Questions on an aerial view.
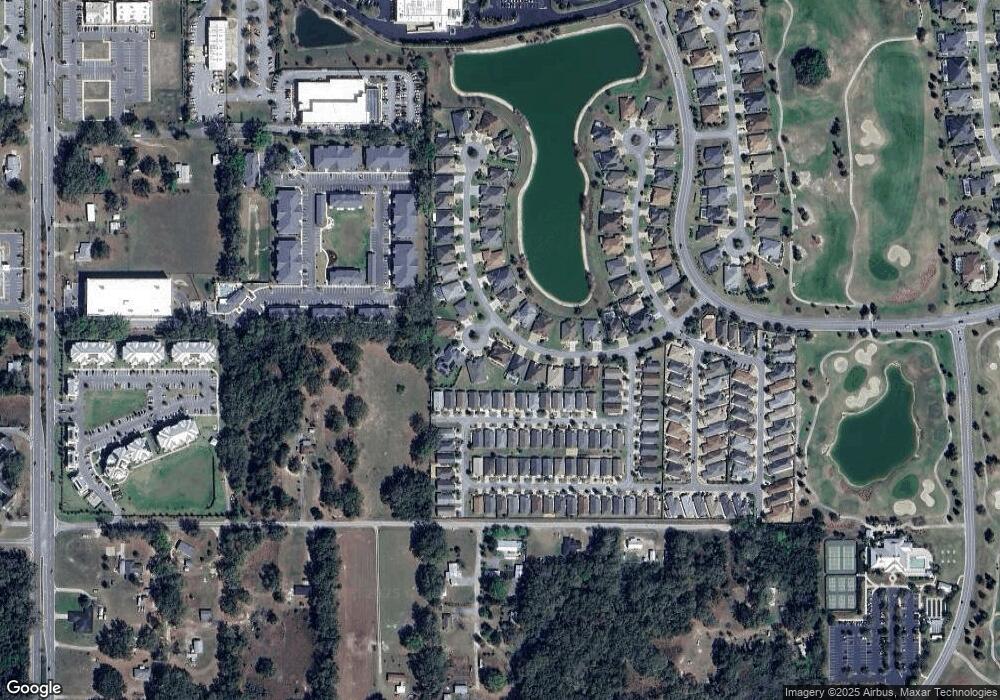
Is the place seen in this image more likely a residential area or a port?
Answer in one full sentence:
This looks like a residential area.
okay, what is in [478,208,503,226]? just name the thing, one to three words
house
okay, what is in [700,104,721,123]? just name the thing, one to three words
house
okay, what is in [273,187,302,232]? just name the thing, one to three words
building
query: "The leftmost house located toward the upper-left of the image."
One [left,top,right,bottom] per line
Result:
[4,153,21,179]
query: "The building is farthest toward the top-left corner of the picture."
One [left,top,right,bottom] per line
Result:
[84,1,110,24]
